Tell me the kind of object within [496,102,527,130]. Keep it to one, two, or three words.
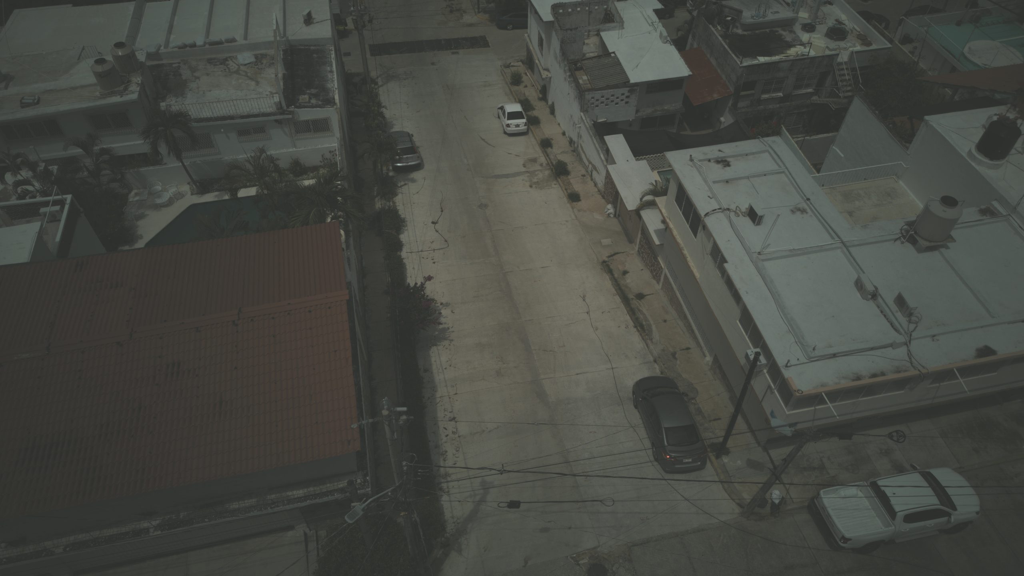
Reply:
car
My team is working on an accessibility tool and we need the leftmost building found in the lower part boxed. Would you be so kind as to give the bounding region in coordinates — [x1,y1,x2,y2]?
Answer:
[0,220,359,546]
